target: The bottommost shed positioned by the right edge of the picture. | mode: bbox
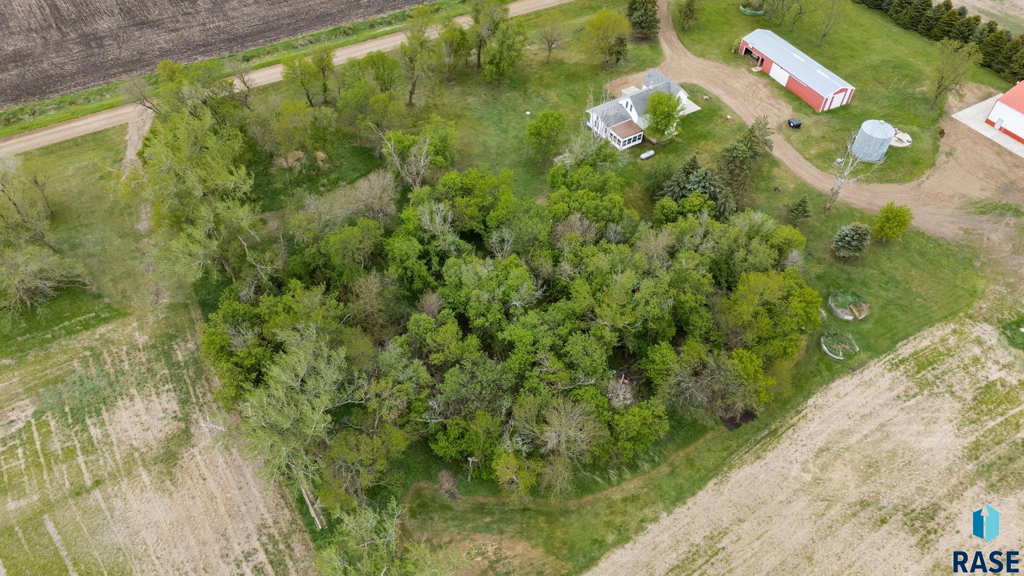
[985,81,1024,144]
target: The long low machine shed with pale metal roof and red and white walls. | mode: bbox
[739,29,856,111]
